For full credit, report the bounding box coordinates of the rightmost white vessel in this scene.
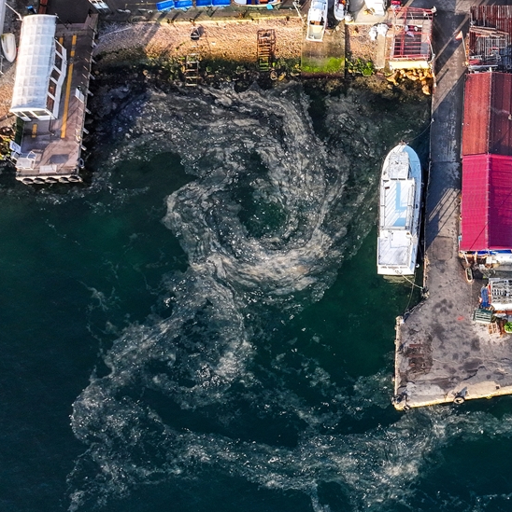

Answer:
[377,126,427,310]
